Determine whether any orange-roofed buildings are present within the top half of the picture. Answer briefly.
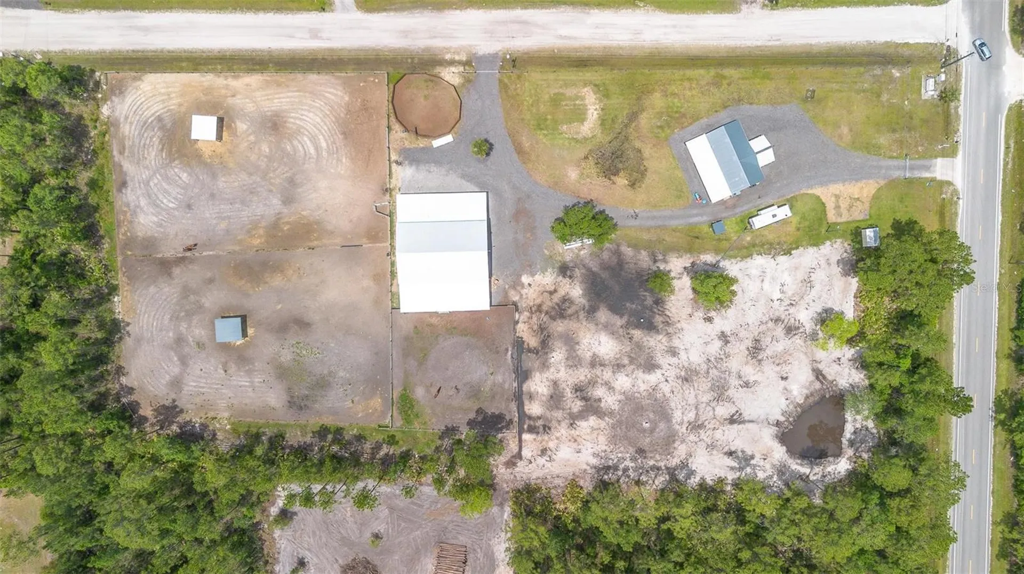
No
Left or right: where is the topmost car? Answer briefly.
right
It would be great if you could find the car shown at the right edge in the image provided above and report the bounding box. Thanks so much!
[971,37,993,62]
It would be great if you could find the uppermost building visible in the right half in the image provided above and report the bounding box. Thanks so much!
[683,119,764,203]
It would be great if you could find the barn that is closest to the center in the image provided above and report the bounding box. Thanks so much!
[396,192,491,317]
